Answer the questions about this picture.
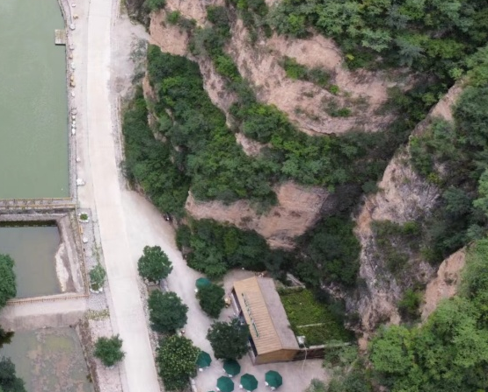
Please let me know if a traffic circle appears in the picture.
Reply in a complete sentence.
No, the picture doesn't show any traffic circle.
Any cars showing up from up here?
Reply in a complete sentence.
No, I can't see a single car in this photo.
